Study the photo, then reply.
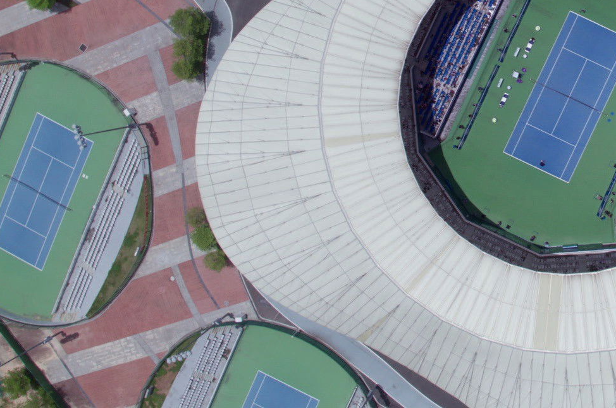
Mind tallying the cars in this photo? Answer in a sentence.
I count no cars.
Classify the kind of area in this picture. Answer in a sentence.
What you see here is a sports ground.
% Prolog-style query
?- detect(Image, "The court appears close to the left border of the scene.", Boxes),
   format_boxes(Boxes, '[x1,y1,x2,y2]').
[0,62,133,318]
